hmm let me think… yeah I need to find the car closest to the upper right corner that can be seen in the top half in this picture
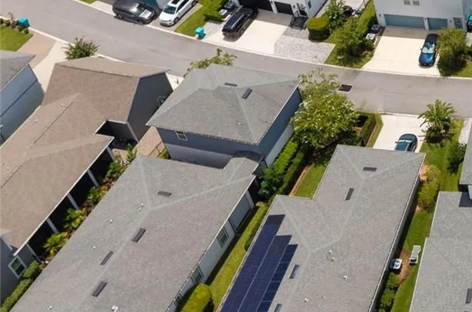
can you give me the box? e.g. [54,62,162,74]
[418,33,440,66]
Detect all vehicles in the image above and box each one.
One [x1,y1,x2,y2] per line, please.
[158,0,198,22]
[393,128,419,152]
[219,4,260,38]
[111,0,156,21]
[418,33,440,66]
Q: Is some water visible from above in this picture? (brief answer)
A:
No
